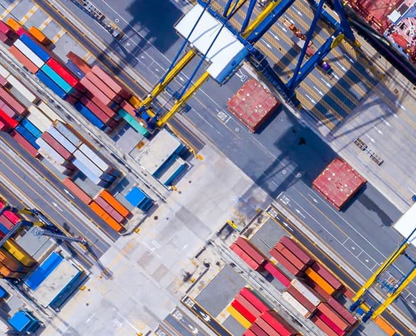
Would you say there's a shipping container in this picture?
Yes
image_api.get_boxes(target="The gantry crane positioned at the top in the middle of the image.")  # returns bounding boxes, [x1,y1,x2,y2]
[134,0,366,135]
